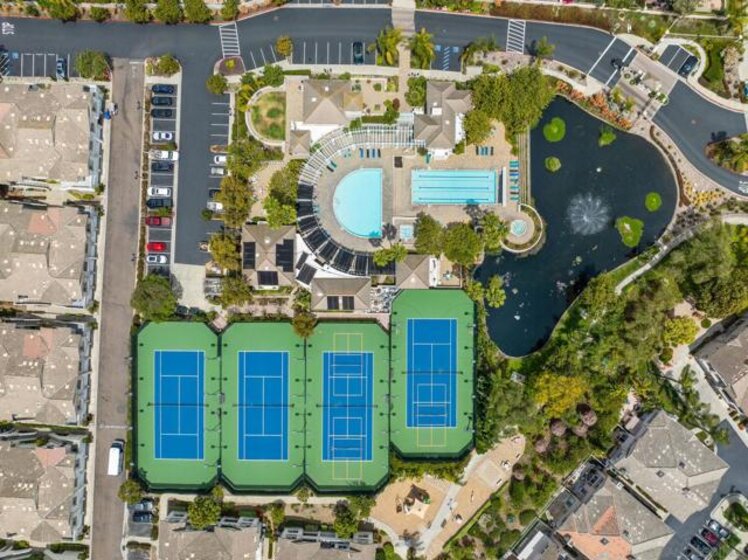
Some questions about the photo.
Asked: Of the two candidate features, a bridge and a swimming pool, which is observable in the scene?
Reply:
swimming pool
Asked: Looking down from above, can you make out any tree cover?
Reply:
Yes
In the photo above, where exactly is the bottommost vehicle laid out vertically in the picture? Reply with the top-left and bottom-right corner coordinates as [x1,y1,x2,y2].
[109,439,124,474]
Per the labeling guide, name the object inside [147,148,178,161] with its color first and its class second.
white vehicle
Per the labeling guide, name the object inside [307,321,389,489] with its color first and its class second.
green tennis court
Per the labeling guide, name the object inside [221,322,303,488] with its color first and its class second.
green tennis court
